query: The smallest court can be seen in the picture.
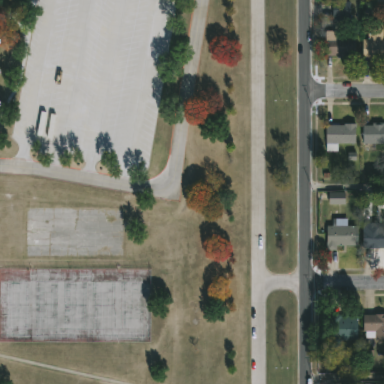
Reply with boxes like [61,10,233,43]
[27,208,123,256]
